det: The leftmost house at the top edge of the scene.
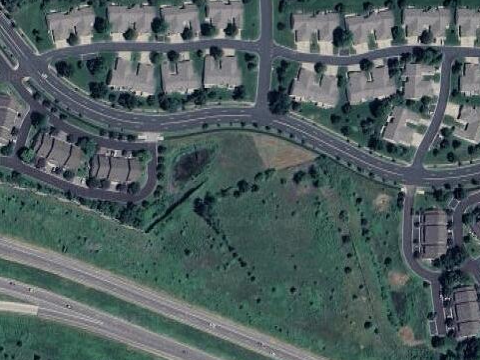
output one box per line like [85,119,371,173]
[44,5,94,44]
